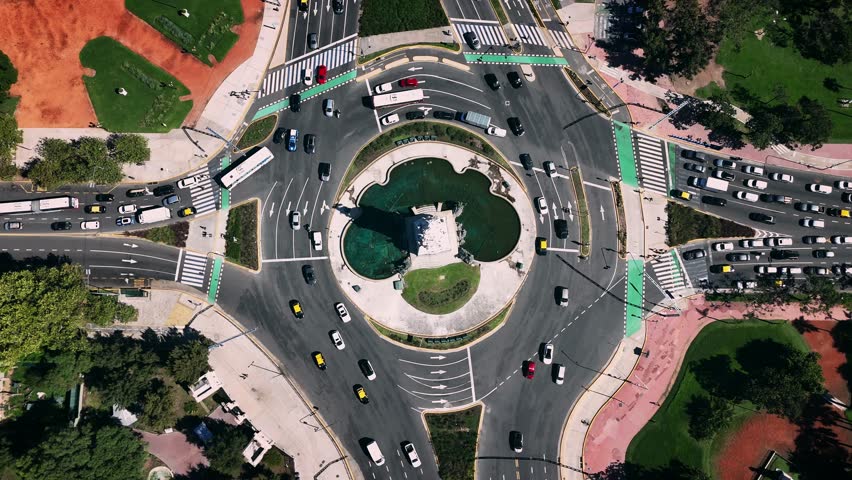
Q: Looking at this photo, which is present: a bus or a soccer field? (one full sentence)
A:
Of the two, only a bus appears.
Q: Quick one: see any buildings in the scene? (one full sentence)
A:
Yes, there's a building down there.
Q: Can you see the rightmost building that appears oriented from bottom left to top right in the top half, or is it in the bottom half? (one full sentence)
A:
It is in the bottom half that the rightmost building that appears oriented from bottom left to top right appears.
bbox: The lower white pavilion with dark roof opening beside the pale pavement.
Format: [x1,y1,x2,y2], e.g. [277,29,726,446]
[246,429,276,461]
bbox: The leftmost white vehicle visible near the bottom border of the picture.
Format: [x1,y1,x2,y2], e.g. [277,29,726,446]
[367,440,385,467]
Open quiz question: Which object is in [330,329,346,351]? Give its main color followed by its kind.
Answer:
white car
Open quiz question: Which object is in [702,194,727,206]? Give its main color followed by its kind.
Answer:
black vehicle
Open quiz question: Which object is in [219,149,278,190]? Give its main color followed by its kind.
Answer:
white bus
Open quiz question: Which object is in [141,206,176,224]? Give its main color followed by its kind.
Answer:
white vehicle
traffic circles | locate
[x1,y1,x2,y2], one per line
[228,43,641,443]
